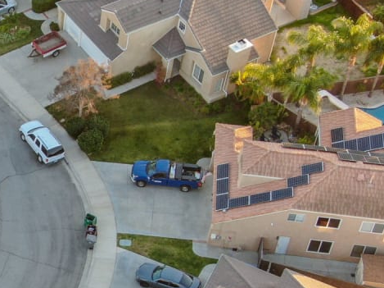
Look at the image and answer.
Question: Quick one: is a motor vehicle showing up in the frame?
Yes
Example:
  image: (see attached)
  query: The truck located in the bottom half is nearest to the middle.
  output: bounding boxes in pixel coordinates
[130,158,206,189]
